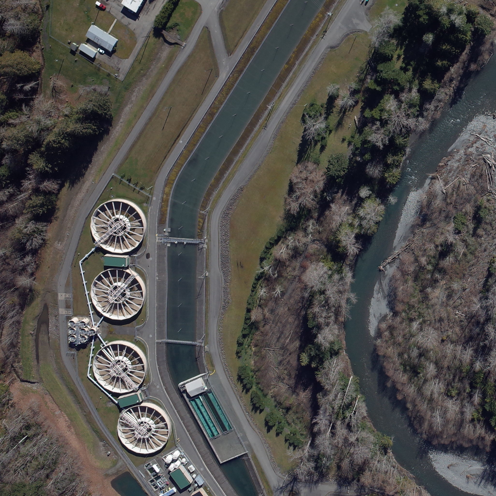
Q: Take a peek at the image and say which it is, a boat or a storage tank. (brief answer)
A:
storage tank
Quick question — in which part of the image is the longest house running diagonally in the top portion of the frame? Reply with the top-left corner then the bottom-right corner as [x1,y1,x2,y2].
[86,24,120,51]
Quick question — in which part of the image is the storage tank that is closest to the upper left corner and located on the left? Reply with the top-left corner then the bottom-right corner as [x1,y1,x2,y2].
[91,197,150,252]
